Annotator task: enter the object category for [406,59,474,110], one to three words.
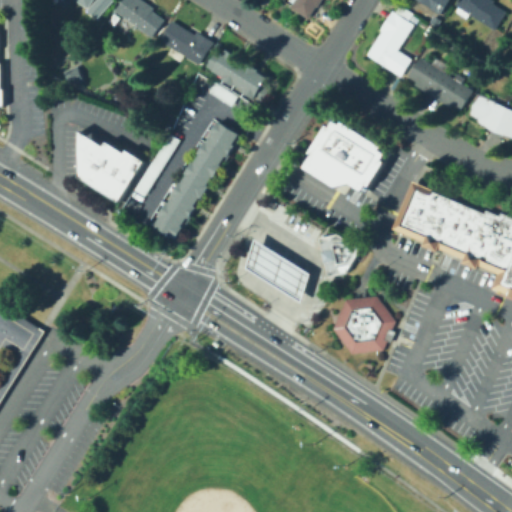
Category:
house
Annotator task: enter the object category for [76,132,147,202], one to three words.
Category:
building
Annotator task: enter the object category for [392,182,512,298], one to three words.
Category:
building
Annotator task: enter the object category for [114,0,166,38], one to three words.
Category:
house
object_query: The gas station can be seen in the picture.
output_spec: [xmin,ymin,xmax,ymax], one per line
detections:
[234,196,326,332]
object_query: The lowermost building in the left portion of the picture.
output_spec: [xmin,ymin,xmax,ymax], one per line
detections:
[0,312,48,408]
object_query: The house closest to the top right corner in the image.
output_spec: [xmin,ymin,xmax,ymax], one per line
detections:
[458,0,508,29]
